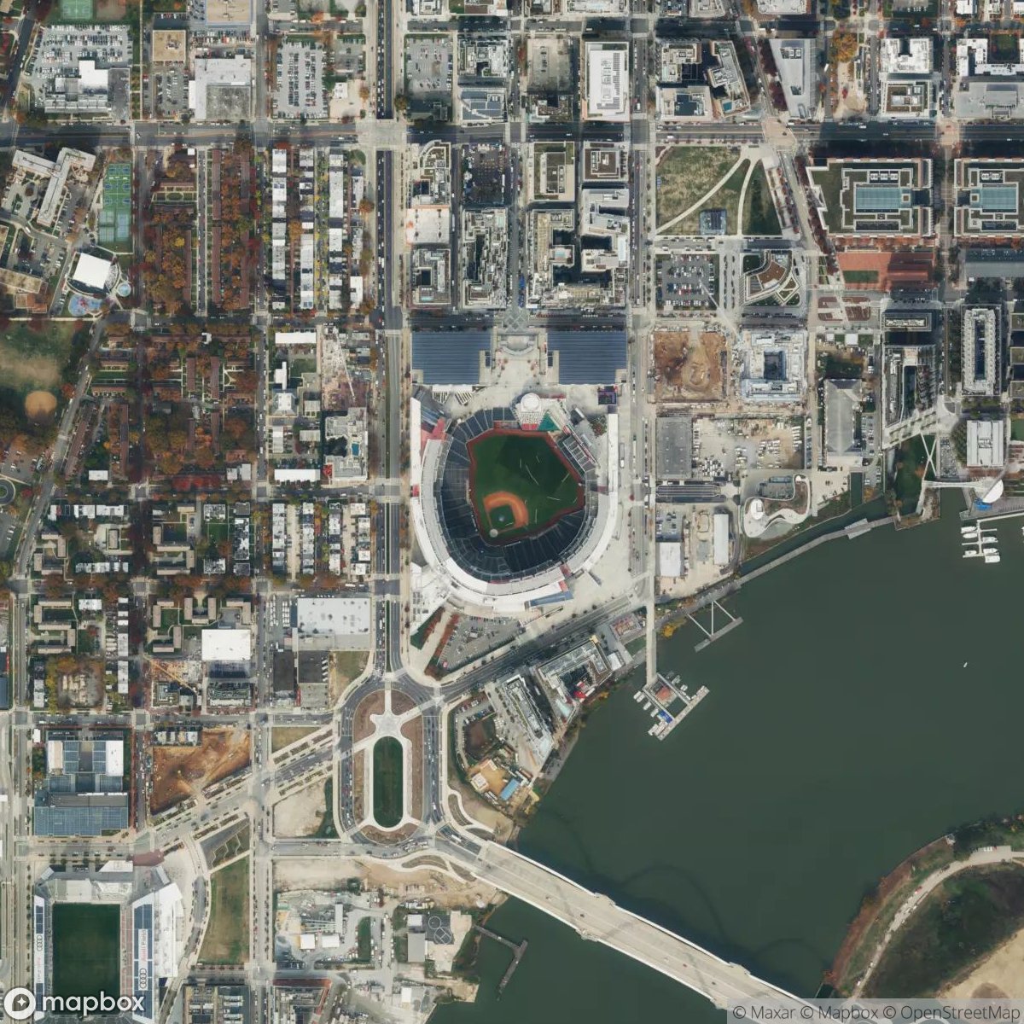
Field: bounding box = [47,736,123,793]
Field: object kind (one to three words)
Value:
building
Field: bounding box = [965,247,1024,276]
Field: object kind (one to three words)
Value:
building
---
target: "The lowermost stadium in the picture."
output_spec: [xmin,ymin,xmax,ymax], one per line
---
[34,867,184,1024]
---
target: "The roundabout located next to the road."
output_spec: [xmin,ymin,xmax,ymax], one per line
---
[337,674,440,856]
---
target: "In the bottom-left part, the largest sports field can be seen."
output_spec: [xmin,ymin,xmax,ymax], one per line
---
[52,904,120,1015]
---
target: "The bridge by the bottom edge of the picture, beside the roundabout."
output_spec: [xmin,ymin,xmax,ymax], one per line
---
[472,840,841,1024]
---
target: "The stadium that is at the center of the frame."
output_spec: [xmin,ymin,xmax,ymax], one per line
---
[410,385,618,617]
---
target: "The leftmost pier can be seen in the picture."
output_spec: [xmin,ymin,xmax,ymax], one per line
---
[475,925,527,993]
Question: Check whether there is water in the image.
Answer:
Yes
